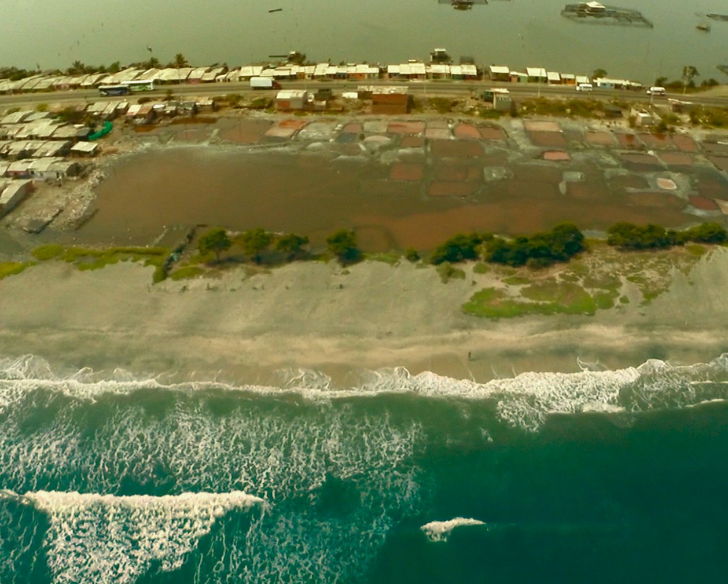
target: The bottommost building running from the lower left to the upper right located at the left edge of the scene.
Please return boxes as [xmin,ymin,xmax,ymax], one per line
[0,177,34,215]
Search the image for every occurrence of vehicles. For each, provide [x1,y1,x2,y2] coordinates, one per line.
[96,82,131,95]
[577,84,593,91]
[649,87,666,95]
[120,78,156,89]
[248,76,280,88]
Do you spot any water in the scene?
Yes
